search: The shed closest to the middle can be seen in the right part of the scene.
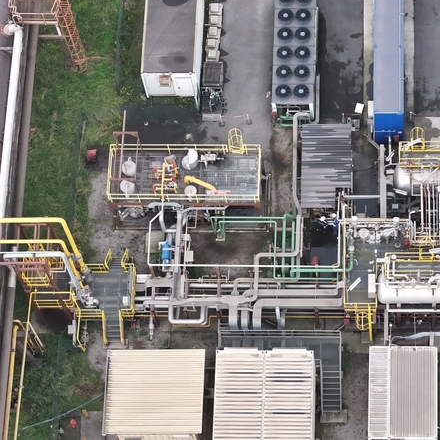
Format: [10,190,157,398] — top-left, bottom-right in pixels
[300,123,355,223]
